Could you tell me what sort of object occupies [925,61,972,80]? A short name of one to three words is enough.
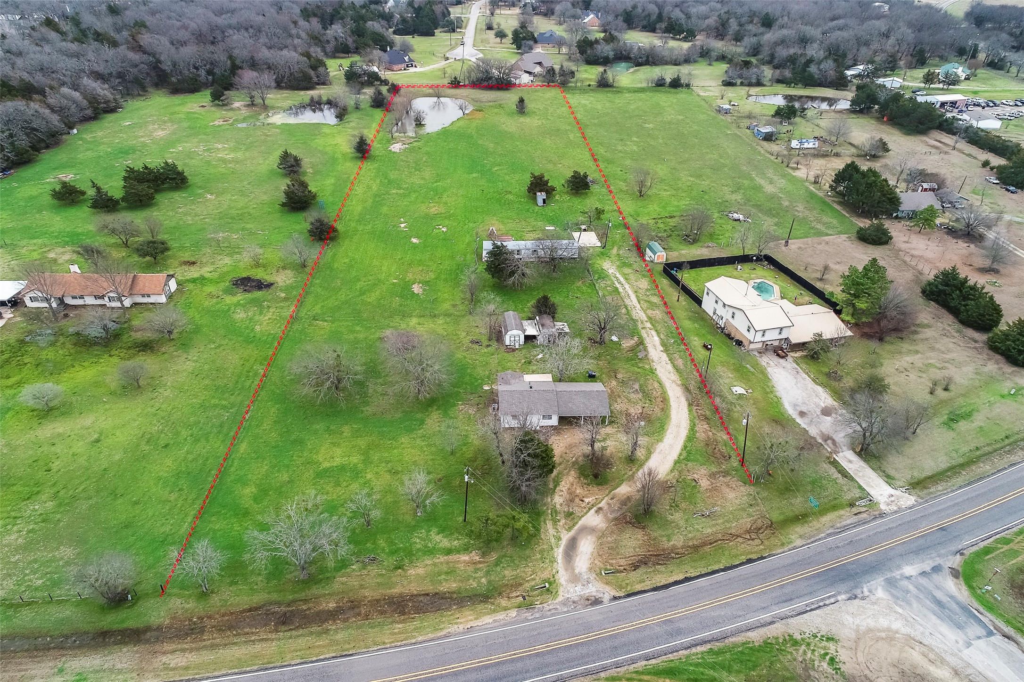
building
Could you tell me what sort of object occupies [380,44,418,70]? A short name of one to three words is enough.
house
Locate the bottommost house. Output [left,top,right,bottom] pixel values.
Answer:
[497,368,606,431]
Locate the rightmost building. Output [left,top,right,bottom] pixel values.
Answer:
[974,112,1005,130]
